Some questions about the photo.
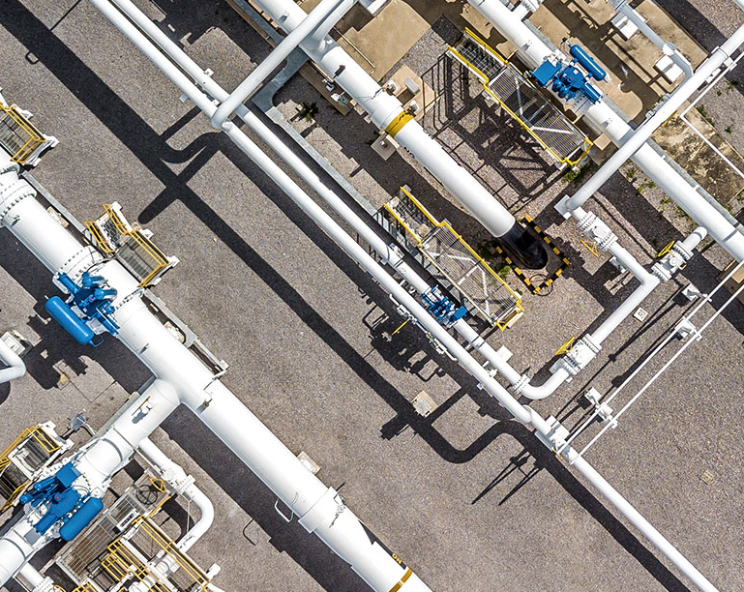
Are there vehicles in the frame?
No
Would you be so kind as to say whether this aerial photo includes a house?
No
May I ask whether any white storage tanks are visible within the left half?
No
